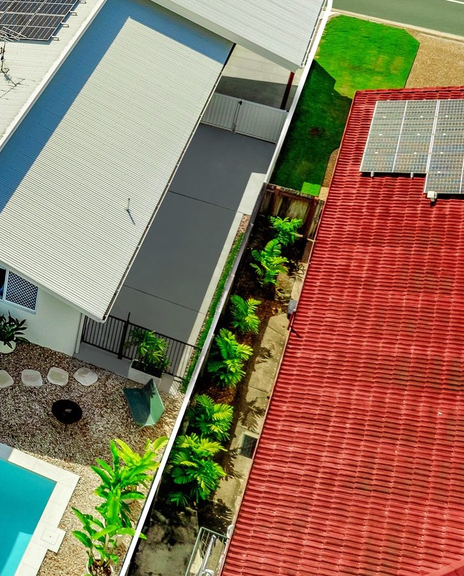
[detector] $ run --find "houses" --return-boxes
[213,82,464,576]
[0,0,237,357]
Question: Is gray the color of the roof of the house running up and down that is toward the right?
No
